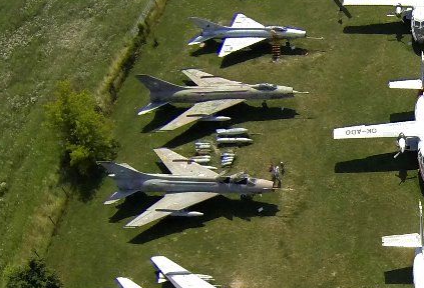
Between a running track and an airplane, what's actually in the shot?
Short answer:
airplane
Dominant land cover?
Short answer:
grass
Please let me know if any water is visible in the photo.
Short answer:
No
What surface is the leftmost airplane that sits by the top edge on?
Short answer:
grass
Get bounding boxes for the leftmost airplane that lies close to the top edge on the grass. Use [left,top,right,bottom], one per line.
[190,14,322,57]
